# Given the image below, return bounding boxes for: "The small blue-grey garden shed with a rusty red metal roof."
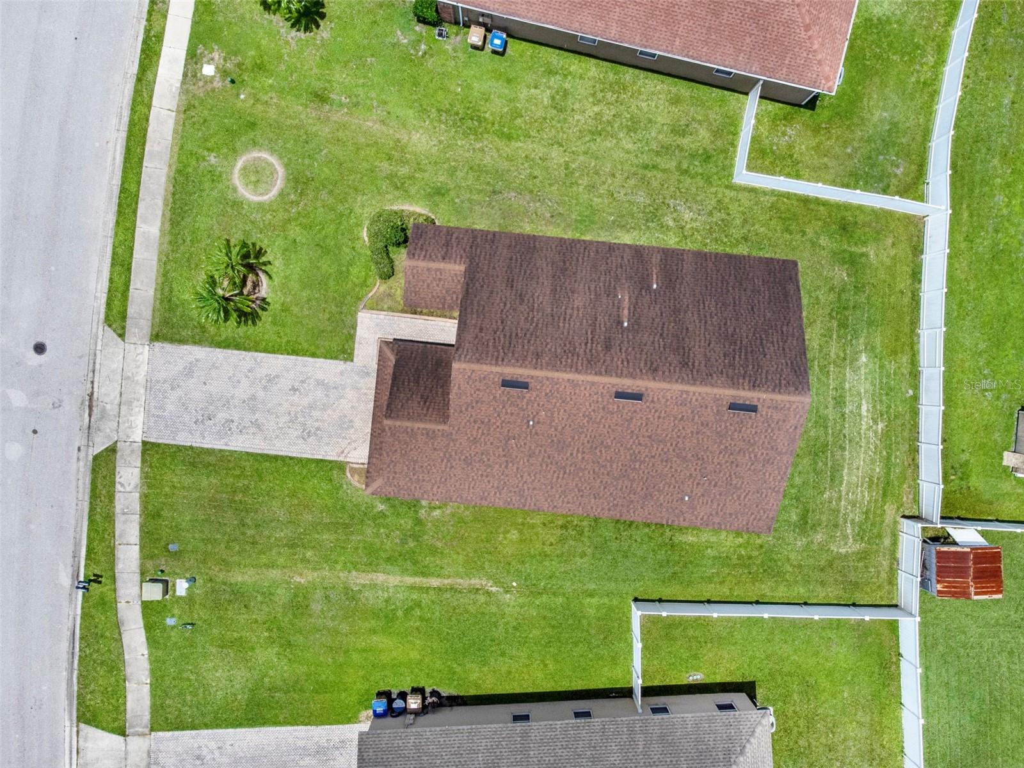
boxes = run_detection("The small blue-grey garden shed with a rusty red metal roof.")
[920,540,1004,600]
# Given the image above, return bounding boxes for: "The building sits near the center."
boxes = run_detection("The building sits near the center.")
[363,223,810,534]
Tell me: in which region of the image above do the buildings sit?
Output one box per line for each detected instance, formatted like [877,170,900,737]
[356,693,772,768]
[431,0,854,109]
[363,223,810,534]
[920,540,1004,600]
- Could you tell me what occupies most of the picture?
grass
